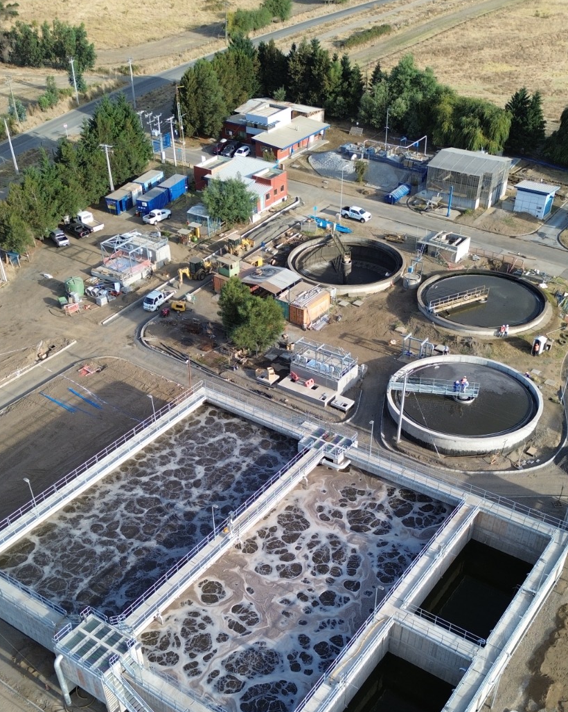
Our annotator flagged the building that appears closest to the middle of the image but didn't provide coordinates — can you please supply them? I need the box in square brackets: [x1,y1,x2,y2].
[214,256,245,280]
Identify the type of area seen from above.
industrial area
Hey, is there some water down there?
Yes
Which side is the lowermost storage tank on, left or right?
right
